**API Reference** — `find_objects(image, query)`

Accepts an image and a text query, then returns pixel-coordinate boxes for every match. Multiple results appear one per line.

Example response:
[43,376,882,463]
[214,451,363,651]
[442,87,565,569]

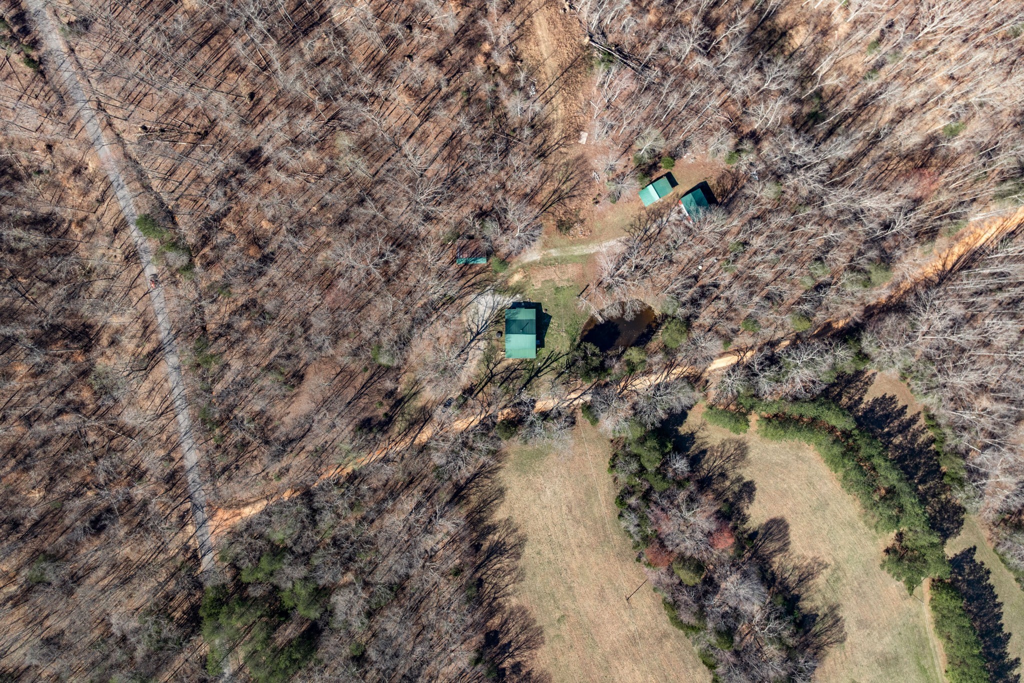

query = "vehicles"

[148,274,157,290]
[442,398,455,410]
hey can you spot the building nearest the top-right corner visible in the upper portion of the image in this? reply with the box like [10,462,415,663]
[679,188,714,225]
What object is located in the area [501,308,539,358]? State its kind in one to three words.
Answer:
house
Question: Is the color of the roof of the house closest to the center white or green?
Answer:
green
